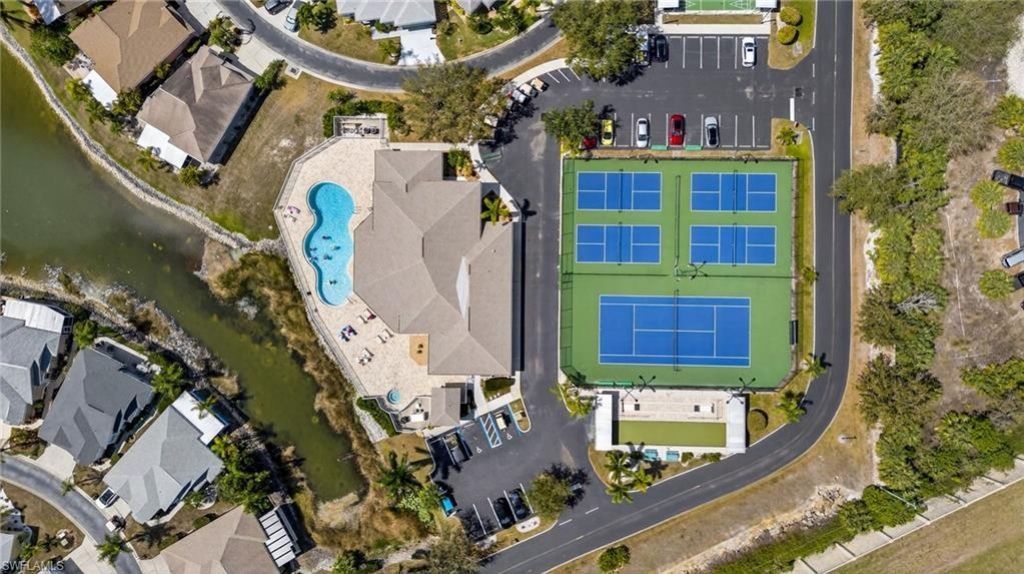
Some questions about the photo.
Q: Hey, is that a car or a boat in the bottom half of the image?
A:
car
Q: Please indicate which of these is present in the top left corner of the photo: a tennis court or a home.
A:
home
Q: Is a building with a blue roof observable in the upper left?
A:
No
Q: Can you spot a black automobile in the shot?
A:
Yes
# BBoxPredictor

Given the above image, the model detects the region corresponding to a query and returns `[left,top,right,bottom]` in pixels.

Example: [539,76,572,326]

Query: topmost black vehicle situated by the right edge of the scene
[991,171,1024,191]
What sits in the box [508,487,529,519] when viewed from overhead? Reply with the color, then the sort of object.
black car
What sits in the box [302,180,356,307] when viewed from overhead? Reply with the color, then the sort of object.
blue swimming pool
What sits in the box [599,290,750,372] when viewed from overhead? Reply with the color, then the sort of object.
blue tennis court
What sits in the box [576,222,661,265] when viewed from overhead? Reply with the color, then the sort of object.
blue sports court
